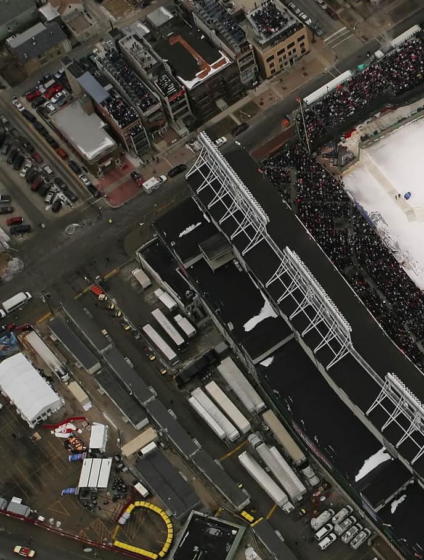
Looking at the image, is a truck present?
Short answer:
Yes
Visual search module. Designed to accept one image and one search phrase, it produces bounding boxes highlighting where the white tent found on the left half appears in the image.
[0,351,67,428]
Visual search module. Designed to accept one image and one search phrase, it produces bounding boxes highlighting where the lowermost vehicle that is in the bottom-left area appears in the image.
[13,546,36,559]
